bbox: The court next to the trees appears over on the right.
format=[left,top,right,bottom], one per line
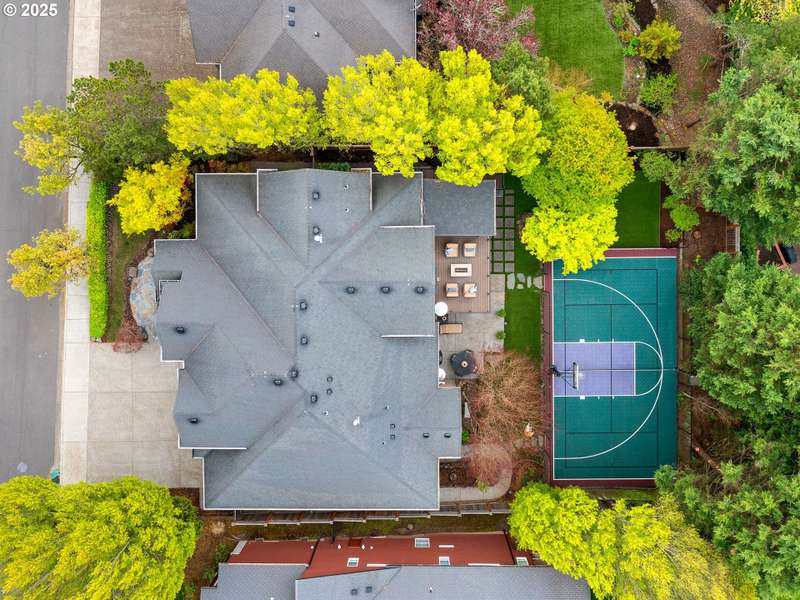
[544,248,677,488]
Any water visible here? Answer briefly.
No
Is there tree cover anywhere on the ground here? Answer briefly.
Yes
